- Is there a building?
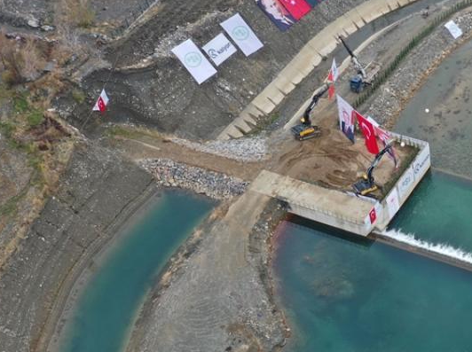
No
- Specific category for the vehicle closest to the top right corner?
truck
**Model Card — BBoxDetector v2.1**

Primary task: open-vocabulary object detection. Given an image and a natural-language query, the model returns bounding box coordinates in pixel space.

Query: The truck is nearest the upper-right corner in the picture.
[339,37,387,87]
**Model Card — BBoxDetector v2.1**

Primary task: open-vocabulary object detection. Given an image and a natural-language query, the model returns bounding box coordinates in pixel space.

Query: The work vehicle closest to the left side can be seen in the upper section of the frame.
[297,84,339,141]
